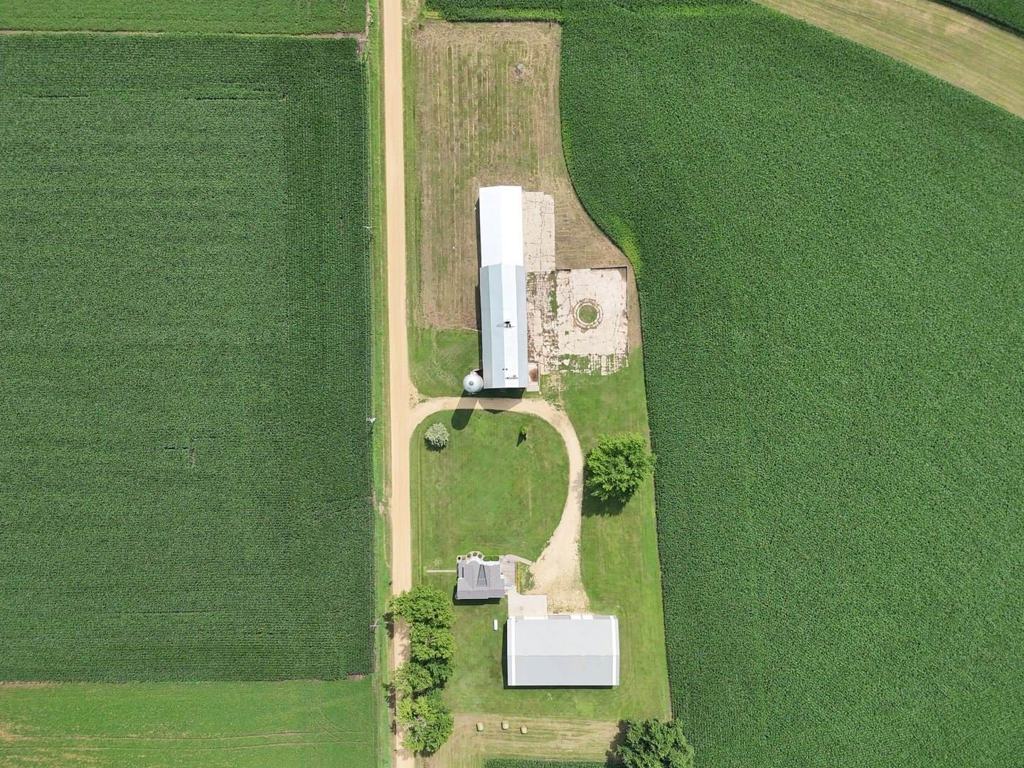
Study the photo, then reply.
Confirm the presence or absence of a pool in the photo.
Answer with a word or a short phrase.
No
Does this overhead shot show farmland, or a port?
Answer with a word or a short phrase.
farmland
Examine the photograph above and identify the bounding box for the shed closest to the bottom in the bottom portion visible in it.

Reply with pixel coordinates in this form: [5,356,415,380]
[507,615,620,686]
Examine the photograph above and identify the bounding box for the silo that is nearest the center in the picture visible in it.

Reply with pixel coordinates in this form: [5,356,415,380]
[462,370,483,395]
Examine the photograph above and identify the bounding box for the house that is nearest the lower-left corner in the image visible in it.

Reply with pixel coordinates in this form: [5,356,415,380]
[457,555,505,599]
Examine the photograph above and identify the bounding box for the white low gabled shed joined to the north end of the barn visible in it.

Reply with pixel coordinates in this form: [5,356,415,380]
[479,186,524,267]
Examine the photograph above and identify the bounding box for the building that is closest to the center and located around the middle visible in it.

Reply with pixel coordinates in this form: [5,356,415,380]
[480,262,528,389]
